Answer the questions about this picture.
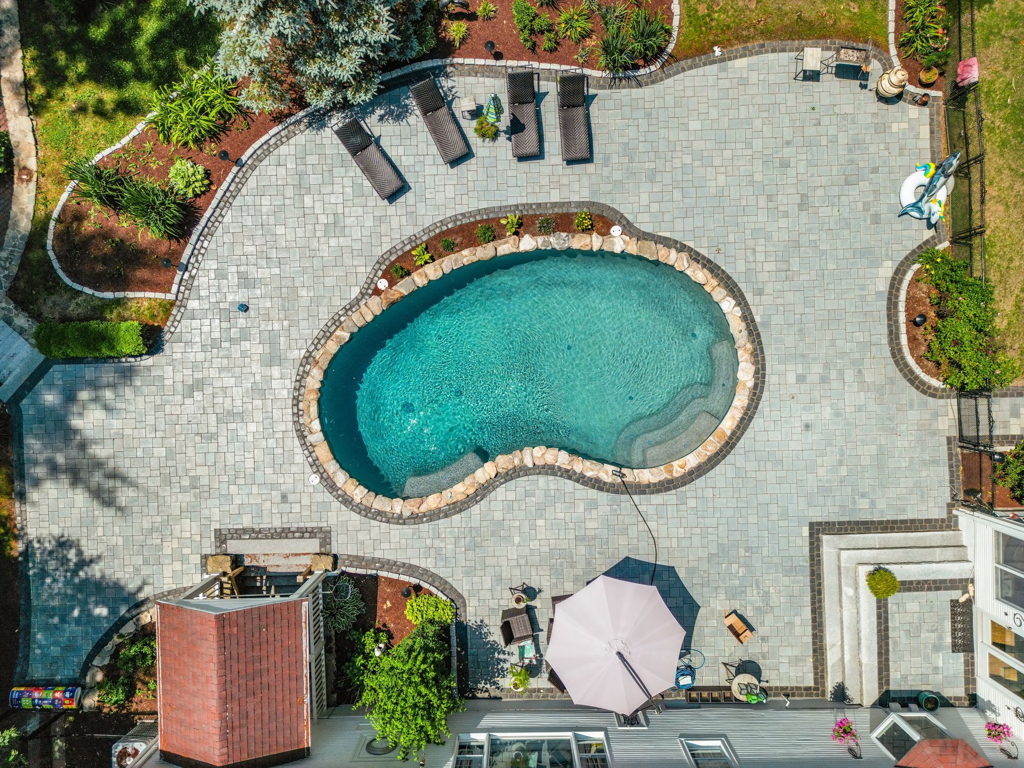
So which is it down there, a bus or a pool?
pool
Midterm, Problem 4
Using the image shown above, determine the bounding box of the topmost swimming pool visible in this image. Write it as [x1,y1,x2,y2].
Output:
[301,230,756,516]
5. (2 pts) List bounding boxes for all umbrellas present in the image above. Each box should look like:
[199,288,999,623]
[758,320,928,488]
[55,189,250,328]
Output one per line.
[474,93,503,132]
[543,573,688,717]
